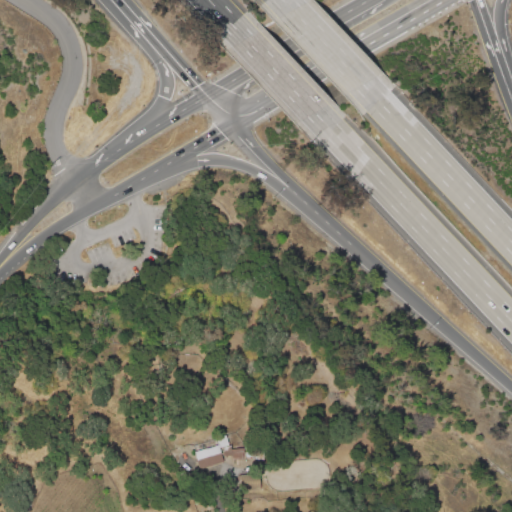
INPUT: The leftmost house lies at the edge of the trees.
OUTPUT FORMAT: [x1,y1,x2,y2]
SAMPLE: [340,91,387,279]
[195,446,224,468]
